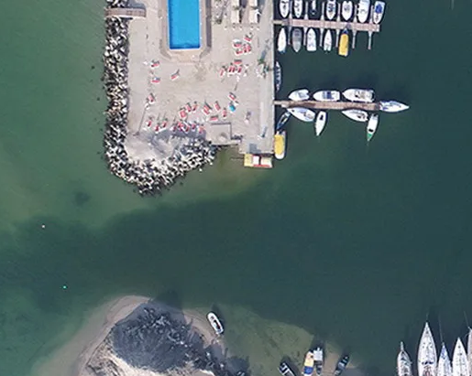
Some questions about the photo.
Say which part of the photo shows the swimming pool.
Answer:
top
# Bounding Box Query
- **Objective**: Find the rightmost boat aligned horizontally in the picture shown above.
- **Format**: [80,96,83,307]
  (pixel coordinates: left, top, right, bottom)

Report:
[380,99,409,113]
